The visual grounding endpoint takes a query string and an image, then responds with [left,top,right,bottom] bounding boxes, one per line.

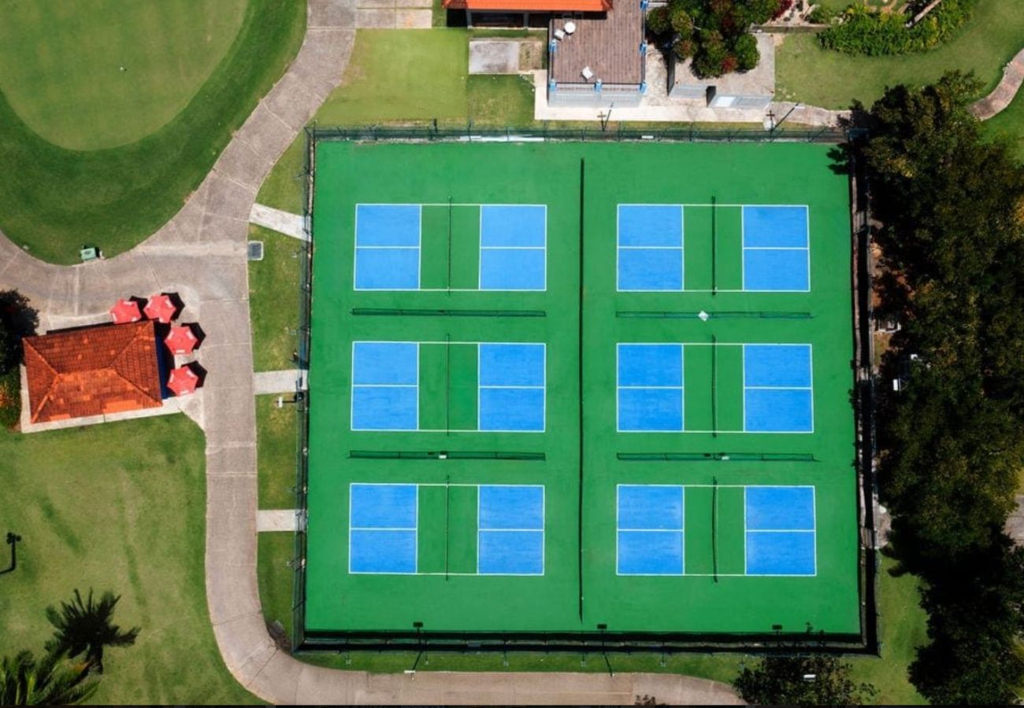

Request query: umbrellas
[168,366,200,396]
[166,326,199,354]
[145,295,177,323]
[111,296,144,325]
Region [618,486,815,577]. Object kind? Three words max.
sports court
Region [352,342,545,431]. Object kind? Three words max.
sports court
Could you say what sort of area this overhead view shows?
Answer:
sports ground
